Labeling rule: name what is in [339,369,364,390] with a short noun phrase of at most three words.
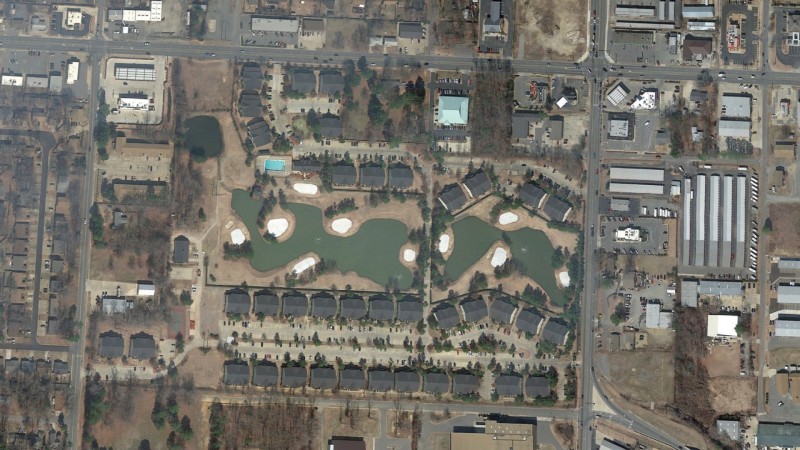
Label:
building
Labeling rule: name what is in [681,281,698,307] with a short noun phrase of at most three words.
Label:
shed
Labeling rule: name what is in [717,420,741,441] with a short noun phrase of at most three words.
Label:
building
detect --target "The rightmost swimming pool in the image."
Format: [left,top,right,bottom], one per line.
[256,156,292,176]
